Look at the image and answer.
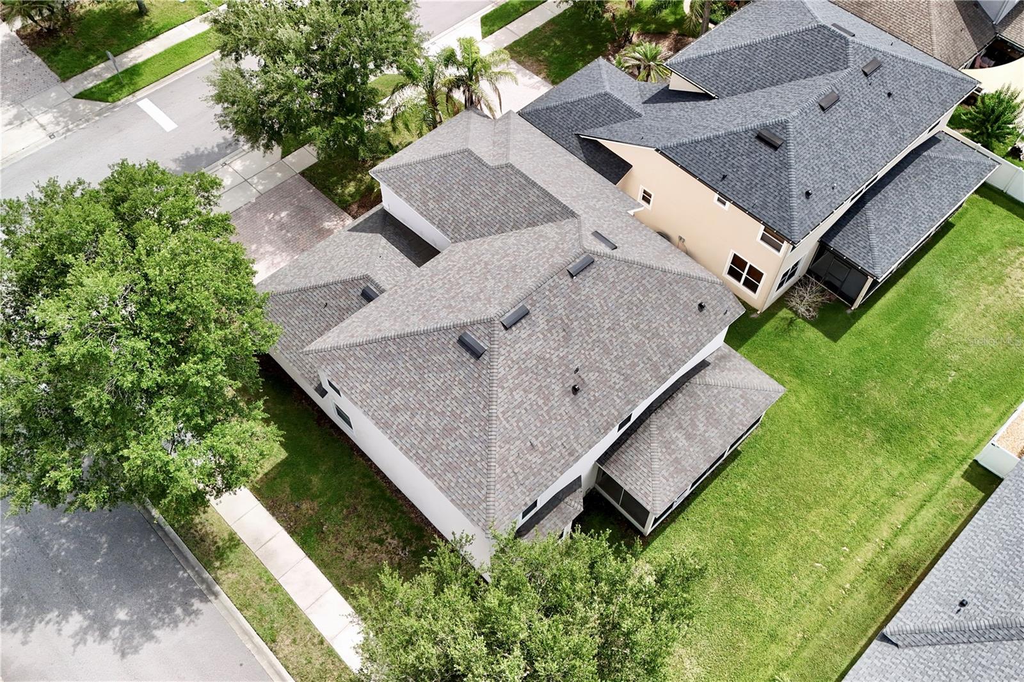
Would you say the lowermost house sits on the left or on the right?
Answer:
right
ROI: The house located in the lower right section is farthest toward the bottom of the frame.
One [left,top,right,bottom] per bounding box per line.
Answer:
[834,461,1024,682]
